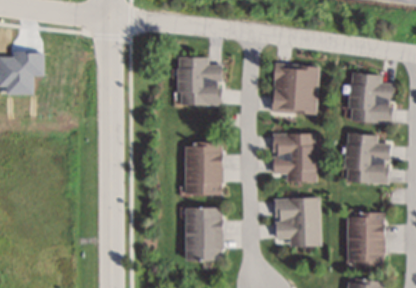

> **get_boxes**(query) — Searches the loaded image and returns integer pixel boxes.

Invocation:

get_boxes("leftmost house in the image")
[0,50,44,95]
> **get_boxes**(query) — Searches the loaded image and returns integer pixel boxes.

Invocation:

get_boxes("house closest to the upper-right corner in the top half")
[342,74,396,123]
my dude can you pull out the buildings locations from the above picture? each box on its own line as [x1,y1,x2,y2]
[348,134,390,184]
[271,62,321,116]
[0,50,44,95]
[276,198,322,248]
[180,142,223,198]
[274,134,318,182]
[348,212,386,266]
[342,74,396,123]
[180,206,223,264]
[174,56,222,108]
